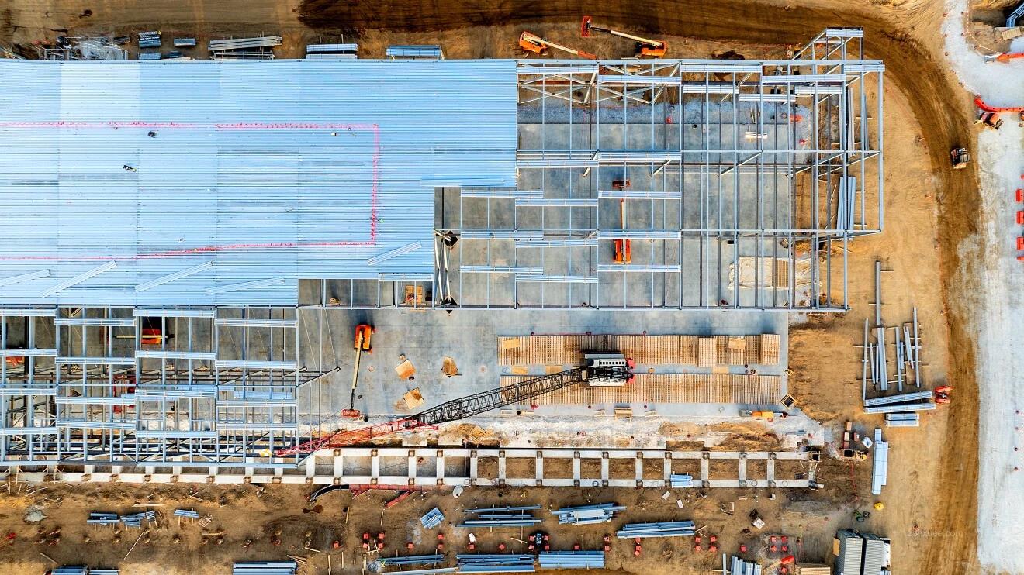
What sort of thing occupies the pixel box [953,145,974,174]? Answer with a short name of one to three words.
work vehicle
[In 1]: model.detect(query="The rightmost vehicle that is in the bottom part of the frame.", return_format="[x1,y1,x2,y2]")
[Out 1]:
[933,386,953,402]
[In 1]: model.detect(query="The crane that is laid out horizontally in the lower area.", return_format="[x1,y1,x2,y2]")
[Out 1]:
[274,353,635,454]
